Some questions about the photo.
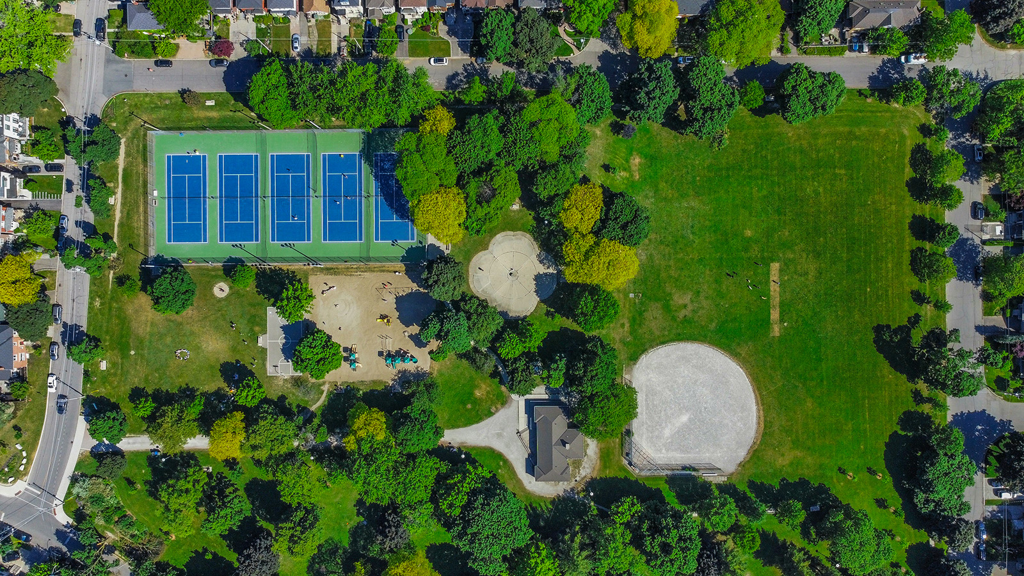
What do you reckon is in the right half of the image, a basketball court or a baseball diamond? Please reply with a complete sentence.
You can see a baseball diamond in the right half of the image.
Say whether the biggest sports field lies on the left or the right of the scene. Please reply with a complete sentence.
The biggest sports field is on the right side of the image.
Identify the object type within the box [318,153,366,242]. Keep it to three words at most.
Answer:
tennis court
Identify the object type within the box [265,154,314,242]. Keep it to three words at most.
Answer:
tennis court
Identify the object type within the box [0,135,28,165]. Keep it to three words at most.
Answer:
house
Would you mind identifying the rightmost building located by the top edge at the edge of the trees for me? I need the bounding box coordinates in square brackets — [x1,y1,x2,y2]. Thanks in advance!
[844,0,921,34]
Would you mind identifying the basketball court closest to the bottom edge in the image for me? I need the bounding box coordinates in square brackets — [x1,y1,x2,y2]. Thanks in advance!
[267,307,302,375]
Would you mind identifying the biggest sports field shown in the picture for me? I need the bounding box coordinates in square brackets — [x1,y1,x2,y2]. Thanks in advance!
[618,102,922,477]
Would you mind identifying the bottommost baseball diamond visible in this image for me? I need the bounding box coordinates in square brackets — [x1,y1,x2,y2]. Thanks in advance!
[624,340,760,476]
